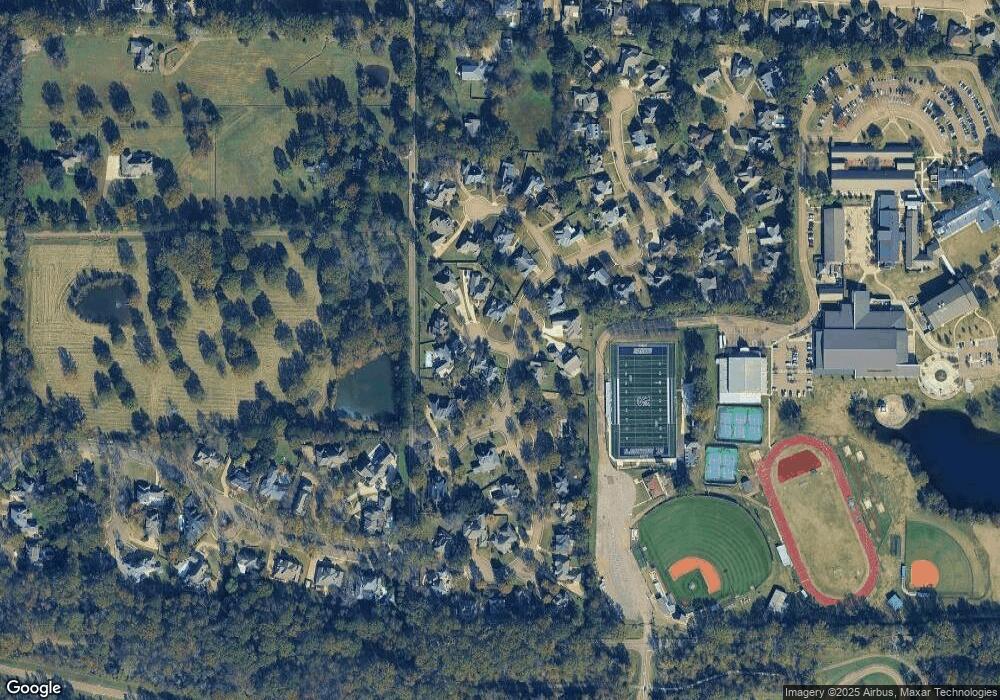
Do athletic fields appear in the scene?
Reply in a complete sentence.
Yes, an athletic field can be made out from above.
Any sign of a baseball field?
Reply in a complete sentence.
Yes, the frame does contain a baseball field.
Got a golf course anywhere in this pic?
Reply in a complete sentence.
No, no golf course can be seen from above.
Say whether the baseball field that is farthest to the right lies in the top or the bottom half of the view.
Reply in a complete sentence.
The baseball field that is farthest to the right sits in the bottom half of the picture.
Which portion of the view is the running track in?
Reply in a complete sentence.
The running track is in the bottom right part of the image.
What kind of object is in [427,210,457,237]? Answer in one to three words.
house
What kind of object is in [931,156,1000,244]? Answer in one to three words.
building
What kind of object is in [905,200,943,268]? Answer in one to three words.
building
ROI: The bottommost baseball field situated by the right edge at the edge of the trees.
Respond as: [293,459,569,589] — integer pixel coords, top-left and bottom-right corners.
[905,520,973,597]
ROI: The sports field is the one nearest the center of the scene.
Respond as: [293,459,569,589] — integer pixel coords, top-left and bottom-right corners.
[610,345,677,459]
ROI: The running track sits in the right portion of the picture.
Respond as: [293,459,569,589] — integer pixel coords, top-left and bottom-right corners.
[761,435,878,605]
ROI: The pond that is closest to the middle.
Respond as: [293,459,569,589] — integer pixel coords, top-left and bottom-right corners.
[337,354,395,416]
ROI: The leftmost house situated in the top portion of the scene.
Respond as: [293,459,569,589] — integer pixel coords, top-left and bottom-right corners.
[57,150,79,175]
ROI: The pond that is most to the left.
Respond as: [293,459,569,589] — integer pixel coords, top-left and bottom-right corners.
[75,283,130,324]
